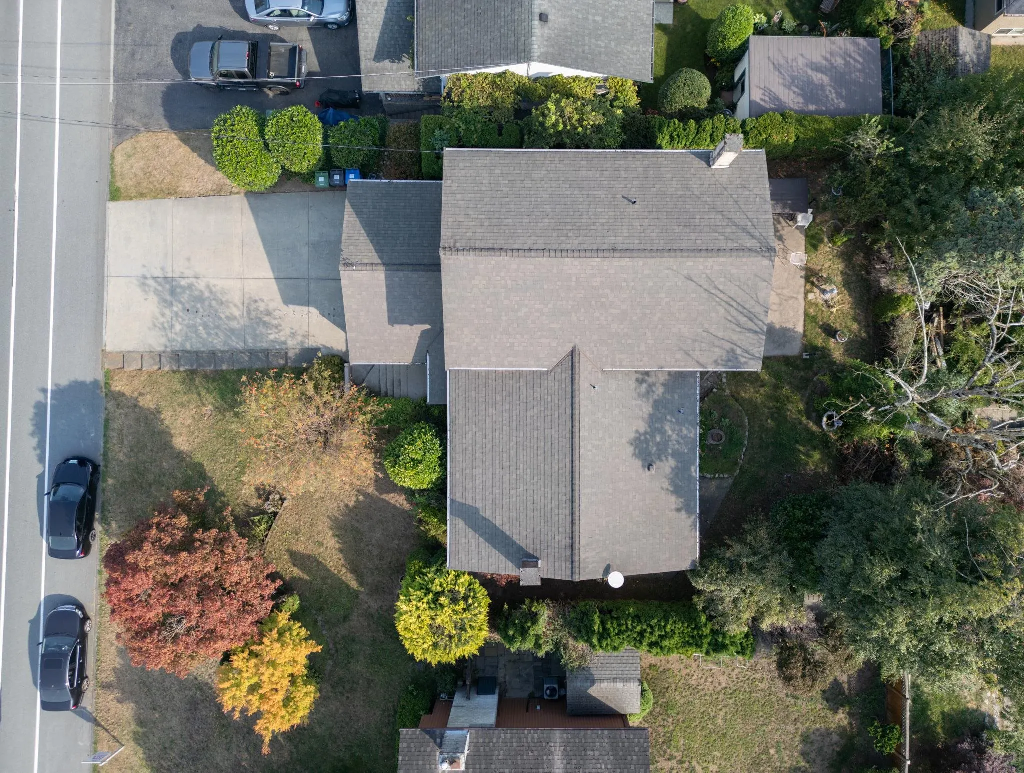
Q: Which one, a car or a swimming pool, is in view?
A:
car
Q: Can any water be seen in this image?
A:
No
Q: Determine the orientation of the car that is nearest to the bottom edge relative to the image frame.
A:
vertically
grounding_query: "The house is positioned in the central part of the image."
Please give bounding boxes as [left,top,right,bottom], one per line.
[340,133,776,585]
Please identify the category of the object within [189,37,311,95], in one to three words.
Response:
truck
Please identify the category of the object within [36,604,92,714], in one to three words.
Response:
car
